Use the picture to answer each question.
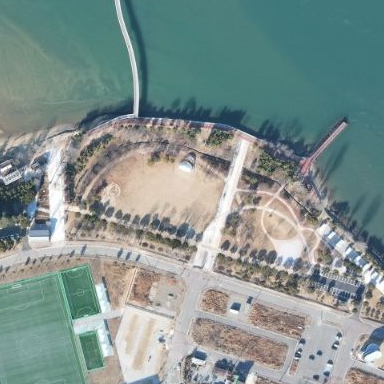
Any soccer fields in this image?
Yes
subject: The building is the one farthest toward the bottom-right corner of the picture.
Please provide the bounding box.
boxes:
[353,342,383,362]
